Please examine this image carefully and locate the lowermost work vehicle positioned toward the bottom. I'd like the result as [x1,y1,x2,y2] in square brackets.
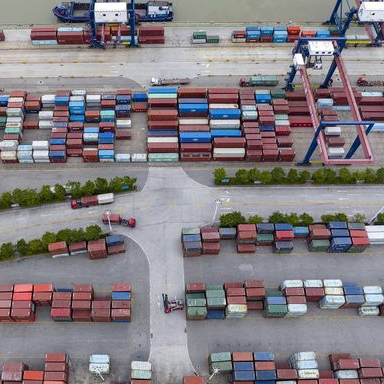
[159,298,183,315]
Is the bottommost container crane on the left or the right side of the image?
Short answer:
right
